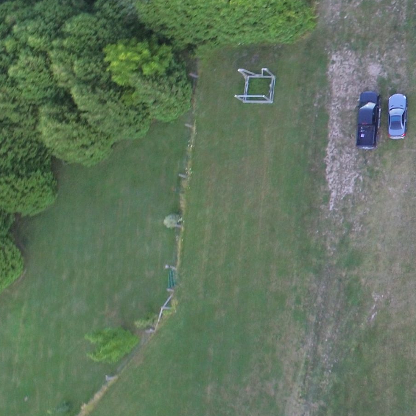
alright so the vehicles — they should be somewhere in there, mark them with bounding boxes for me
[355,92,383,152]
[385,94,409,139]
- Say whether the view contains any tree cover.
Yes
